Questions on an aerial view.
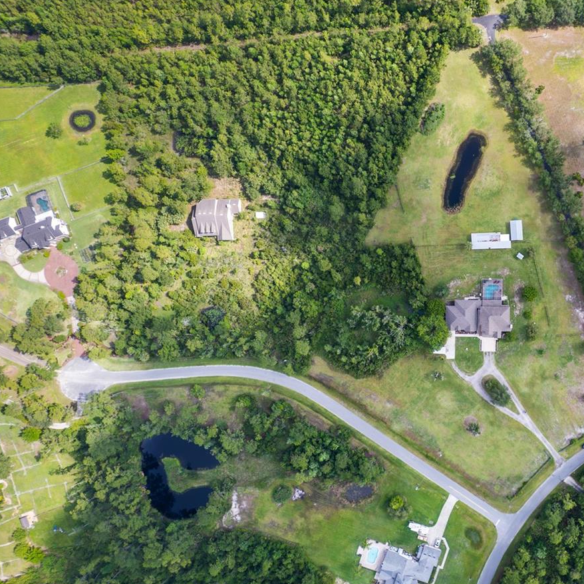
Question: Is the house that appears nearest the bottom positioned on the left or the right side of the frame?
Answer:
right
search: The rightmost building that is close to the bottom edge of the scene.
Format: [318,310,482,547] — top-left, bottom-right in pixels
[377,543,442,584]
